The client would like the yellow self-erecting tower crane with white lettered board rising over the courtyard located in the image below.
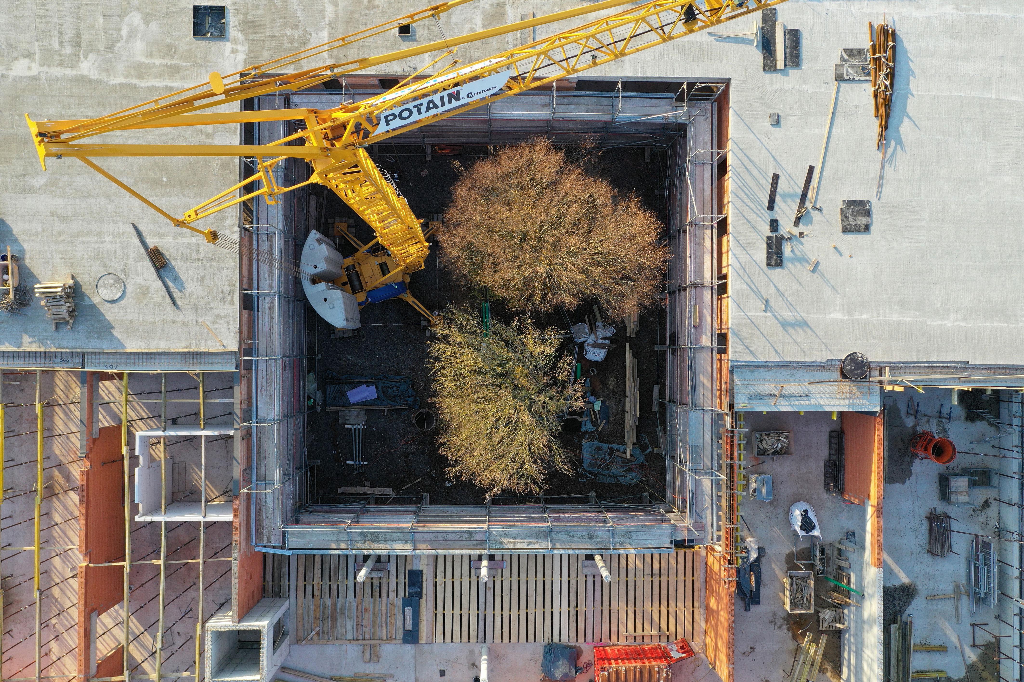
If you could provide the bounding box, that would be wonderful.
[24,0,781,336]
